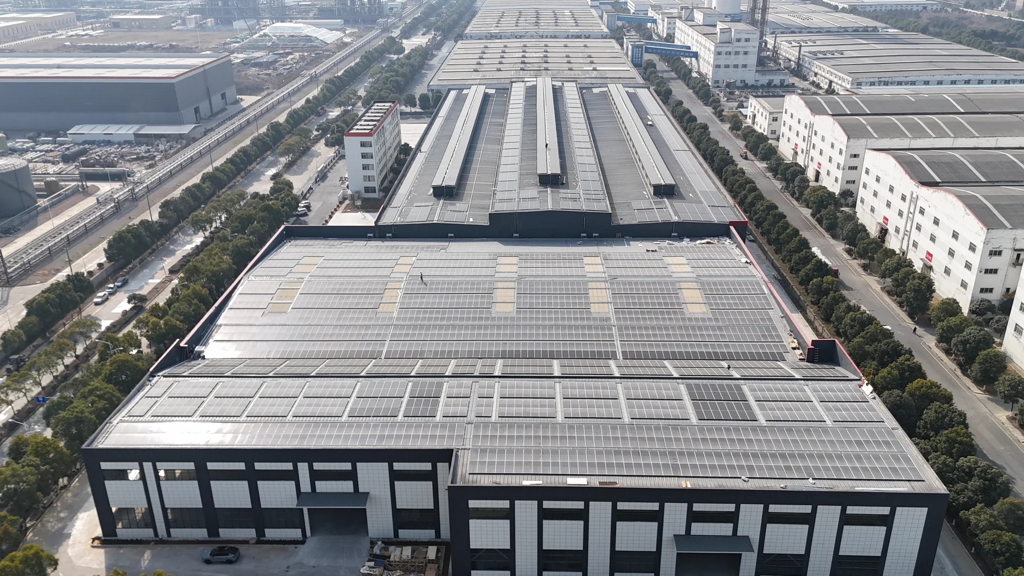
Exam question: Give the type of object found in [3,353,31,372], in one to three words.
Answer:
work vehicle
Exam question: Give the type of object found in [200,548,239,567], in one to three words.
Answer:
car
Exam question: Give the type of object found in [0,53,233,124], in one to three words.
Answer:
building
